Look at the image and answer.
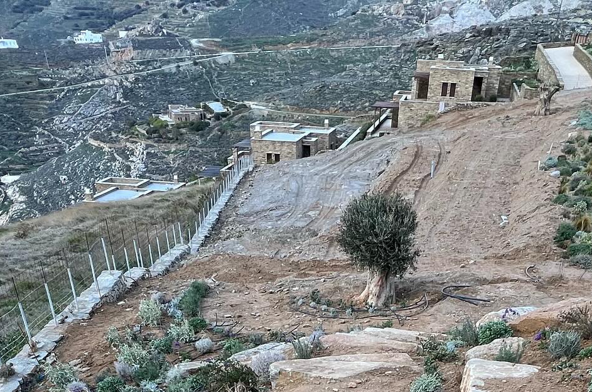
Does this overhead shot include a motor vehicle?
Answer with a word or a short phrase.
No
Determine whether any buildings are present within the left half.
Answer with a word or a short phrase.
Yes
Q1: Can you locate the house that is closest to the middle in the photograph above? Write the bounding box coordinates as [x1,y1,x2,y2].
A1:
[219,117,336,181]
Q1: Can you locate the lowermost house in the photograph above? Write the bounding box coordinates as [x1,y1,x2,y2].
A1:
[84,170,193,203]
